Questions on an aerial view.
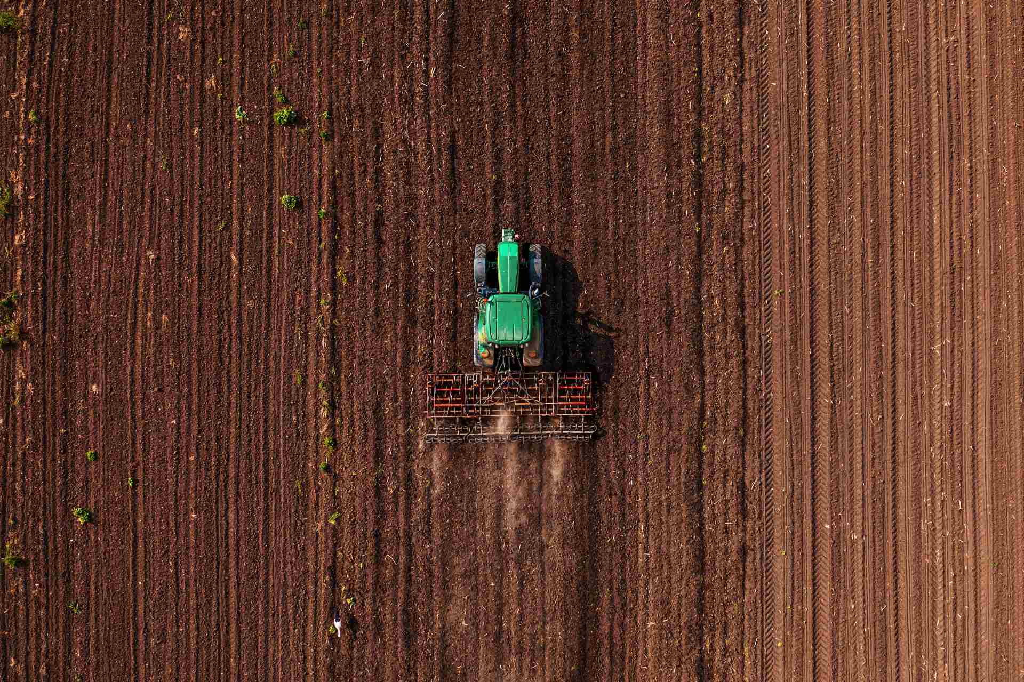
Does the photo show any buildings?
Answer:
No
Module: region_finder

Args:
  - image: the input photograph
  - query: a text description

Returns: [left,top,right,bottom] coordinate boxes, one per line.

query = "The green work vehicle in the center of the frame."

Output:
[467,229,547,379]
